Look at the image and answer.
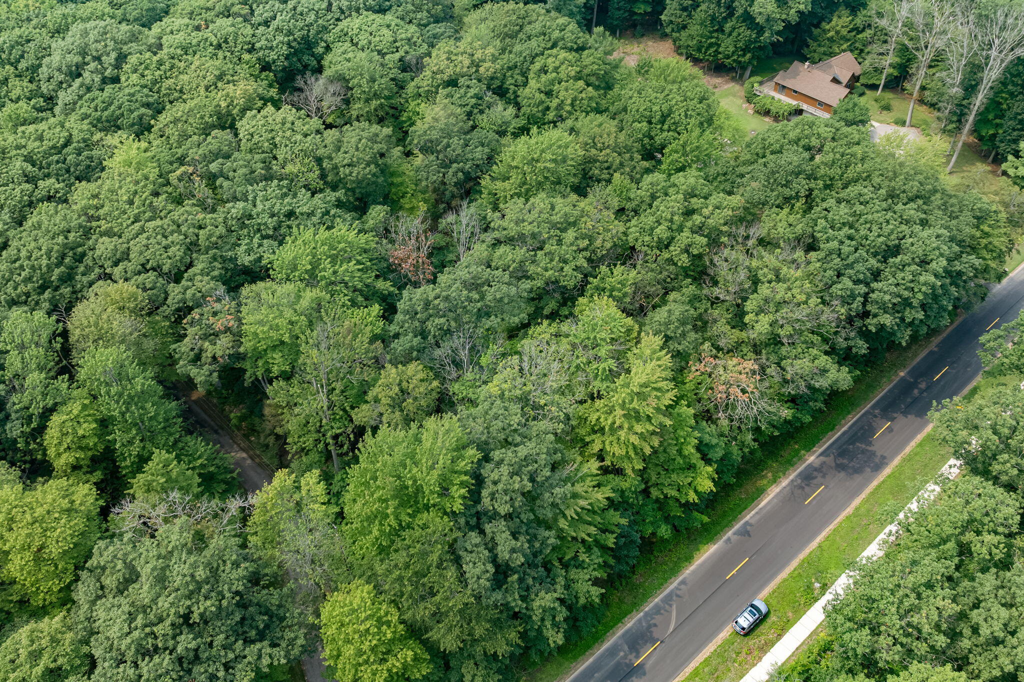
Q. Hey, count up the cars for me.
one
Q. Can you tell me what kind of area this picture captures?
forest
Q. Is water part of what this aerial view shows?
No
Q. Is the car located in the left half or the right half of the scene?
right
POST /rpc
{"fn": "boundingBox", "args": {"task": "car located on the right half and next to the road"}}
[729,599,768,638]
